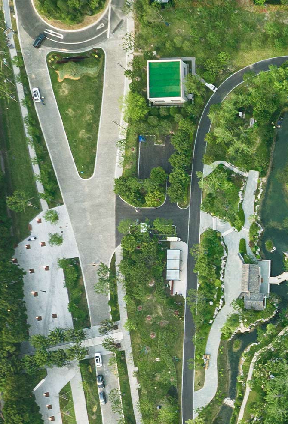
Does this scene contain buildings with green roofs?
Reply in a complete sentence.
Yes, there's a building with a green roof down there.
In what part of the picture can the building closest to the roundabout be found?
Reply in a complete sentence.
The building closest to the roundabout is located in the top region of the scene.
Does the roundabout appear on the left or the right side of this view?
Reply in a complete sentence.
It is on the left.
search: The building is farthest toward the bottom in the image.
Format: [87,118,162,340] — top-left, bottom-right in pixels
[240,292,268,311]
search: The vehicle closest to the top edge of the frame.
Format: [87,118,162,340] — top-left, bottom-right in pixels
[32,33,46,48]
